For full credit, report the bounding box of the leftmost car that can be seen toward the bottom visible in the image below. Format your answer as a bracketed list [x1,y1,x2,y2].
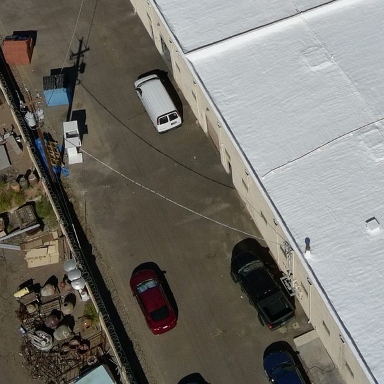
[132,268,179,337]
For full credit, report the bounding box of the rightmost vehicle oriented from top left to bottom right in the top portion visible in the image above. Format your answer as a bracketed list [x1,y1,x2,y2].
[132,72,185,137]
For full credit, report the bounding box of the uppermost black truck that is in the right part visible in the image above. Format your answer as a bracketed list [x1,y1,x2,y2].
[234,247,298,335]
